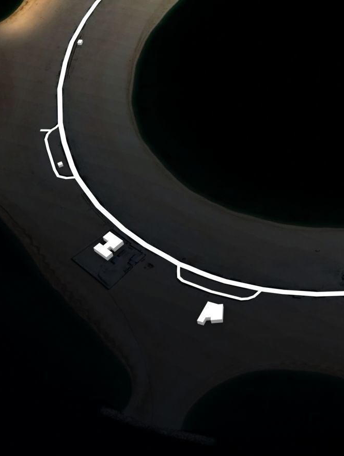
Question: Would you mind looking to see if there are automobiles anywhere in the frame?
No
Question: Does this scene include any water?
Yes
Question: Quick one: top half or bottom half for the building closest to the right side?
bottom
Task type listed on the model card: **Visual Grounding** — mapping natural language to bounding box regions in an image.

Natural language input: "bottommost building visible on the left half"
[94,232,124,260]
